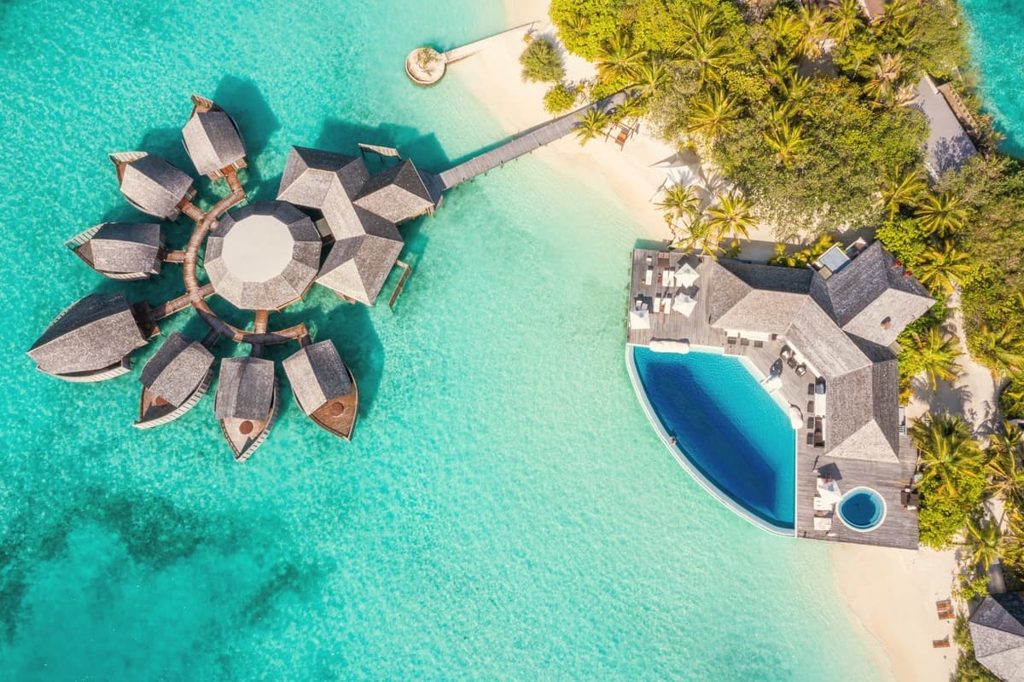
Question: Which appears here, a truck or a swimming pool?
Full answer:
The image shows a swimming pool.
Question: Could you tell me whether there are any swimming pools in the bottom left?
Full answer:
No, no swimming pool appears in the bottom left.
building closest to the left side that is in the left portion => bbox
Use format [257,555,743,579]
[208,202,322,313]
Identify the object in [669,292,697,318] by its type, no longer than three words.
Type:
umbrella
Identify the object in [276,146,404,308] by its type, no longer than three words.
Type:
building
